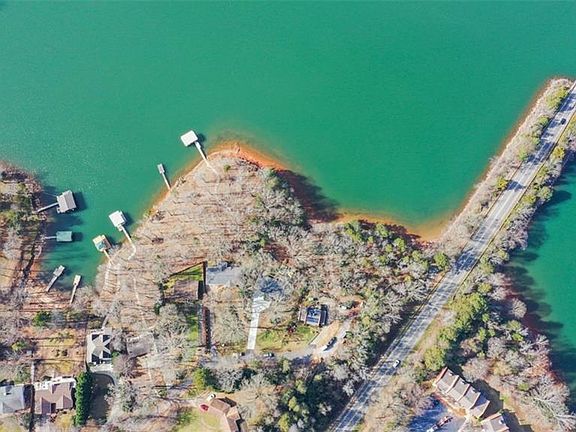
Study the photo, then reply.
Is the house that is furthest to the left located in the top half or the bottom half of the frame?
bottom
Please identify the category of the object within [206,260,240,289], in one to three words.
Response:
house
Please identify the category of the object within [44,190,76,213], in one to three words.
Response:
building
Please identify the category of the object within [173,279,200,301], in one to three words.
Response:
house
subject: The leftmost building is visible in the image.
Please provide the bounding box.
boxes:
[0,384,30,415]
